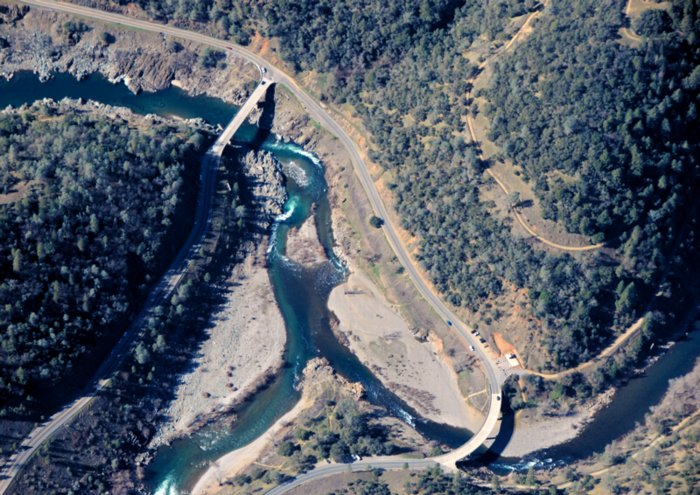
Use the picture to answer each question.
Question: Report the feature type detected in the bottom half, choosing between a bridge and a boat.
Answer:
bridge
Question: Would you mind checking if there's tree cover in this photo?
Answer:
Yes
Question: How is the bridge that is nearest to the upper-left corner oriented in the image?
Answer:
on a diagonal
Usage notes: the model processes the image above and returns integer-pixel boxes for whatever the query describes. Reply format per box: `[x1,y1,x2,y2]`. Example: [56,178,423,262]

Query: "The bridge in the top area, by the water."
[208,83,273,155]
